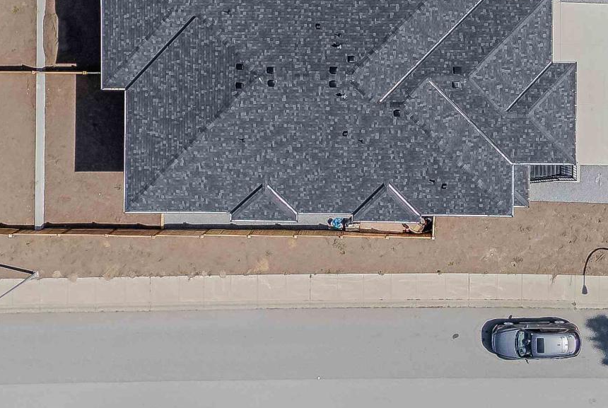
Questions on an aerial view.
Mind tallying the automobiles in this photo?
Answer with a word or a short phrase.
1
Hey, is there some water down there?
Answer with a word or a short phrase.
No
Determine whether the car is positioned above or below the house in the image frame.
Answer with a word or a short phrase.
below it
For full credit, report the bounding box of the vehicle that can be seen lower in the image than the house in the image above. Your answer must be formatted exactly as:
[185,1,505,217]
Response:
[490,320,580,366]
